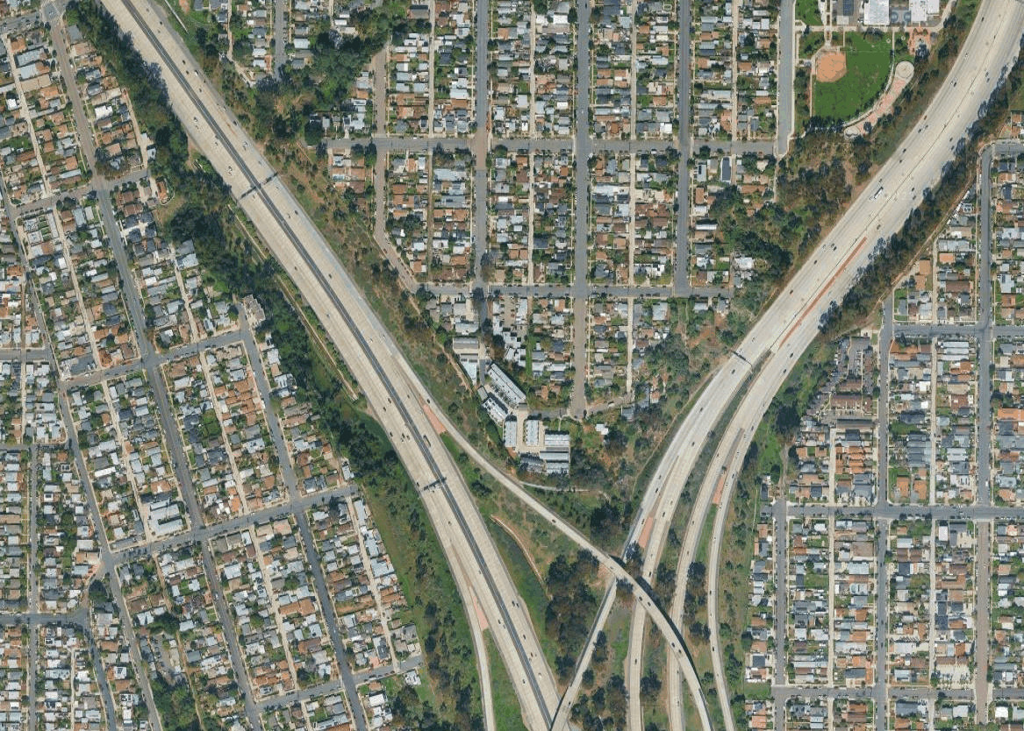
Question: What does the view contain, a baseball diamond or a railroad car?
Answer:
baseball diamond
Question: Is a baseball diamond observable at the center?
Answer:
No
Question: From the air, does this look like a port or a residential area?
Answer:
residential area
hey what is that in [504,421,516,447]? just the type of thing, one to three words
building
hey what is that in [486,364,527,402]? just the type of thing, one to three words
building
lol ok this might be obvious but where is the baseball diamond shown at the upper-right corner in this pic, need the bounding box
[814,32,892,116]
